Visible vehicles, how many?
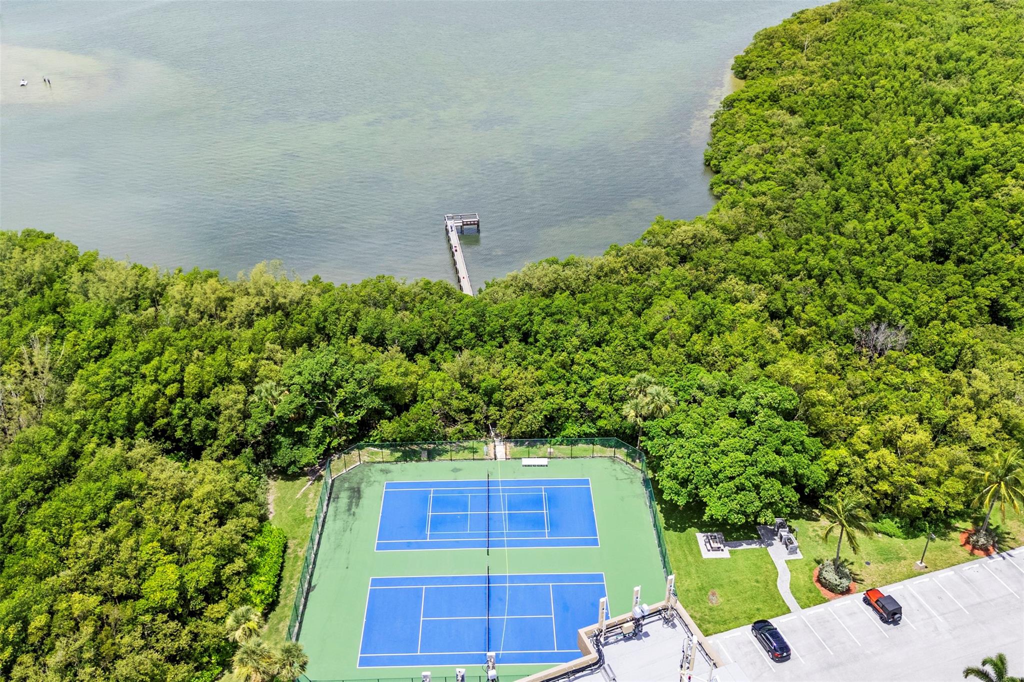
2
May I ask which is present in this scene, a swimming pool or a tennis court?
tennis court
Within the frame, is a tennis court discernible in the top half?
No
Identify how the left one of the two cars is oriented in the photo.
on a diagonal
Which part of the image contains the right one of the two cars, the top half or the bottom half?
bottom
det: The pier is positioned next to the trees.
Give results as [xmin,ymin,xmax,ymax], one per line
[445,210,478,314]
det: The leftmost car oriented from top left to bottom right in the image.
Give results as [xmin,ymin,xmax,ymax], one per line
[752,619,795,663]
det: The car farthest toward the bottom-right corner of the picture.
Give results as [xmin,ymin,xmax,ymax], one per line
[861,589,903,625]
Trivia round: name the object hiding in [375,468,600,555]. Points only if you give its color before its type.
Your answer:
blue tennis court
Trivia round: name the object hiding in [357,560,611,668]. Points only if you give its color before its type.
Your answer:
blue tennis court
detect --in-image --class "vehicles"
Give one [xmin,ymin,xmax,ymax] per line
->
[752,619,795,663]
[861,589,903,625]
